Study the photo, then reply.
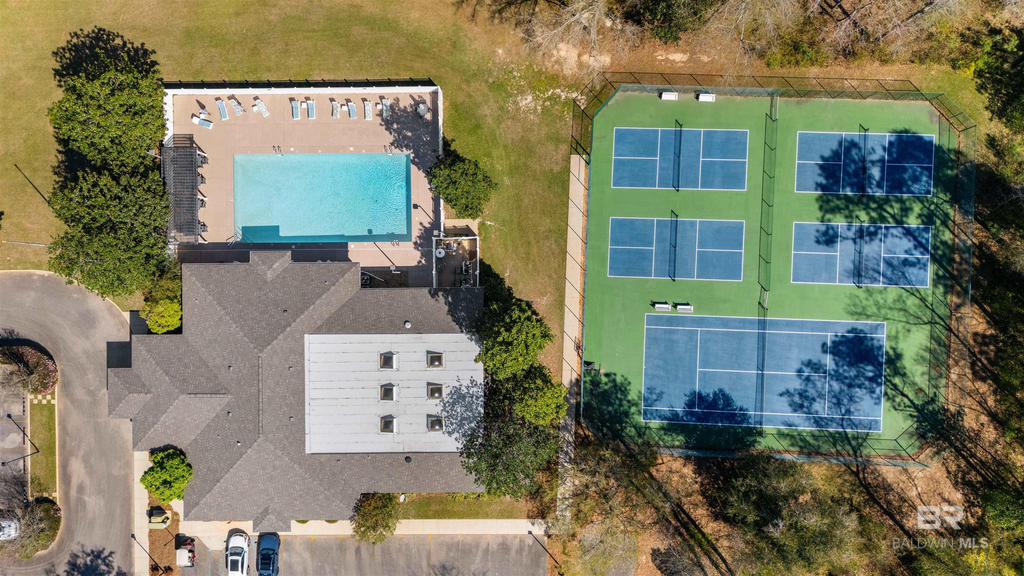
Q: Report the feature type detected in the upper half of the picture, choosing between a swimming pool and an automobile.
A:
swimming pool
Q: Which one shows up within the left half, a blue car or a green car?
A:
blue car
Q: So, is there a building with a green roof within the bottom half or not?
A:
No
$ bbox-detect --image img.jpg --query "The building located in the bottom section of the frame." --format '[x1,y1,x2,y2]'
[107,250,485,532]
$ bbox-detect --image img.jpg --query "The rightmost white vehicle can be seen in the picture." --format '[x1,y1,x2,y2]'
[223,536,248,576]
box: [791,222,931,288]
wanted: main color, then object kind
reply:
blue sports court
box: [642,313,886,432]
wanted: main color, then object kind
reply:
blue tennis court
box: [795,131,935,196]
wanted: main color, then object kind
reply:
blue sports court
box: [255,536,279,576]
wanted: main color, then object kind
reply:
blue car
